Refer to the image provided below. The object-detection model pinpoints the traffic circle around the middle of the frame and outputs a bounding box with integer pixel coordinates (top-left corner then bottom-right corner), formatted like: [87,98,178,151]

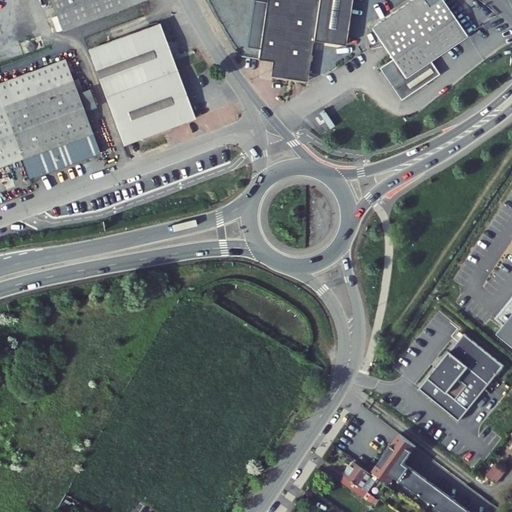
[240,158,359,276]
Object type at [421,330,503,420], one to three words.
building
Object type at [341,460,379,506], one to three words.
house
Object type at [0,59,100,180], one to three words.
building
